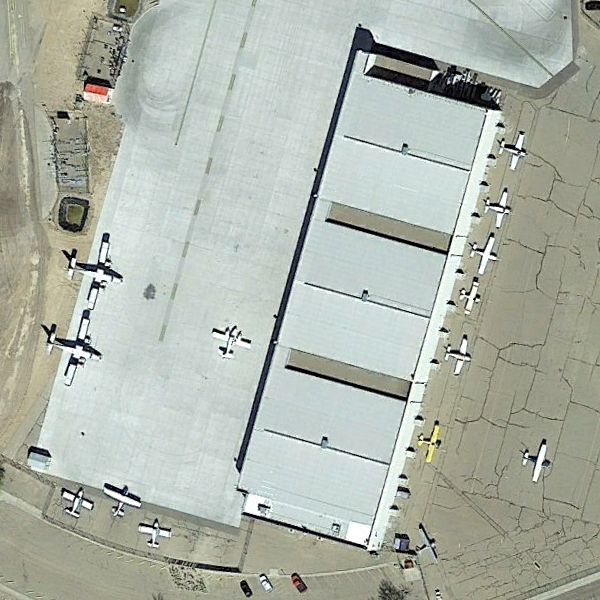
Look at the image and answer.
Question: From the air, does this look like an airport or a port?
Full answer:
This image shows an airport.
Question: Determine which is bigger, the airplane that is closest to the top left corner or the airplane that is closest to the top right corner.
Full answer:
The airplane that is closest to the top left corner takes up more space than the airplane that is closest to the top right corner does.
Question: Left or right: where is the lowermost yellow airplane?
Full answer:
You can find the lowermost yellow airplane on the right side of the picture.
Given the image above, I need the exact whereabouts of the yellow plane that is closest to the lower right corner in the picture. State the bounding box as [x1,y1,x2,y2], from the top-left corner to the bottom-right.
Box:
[415,425,442,462]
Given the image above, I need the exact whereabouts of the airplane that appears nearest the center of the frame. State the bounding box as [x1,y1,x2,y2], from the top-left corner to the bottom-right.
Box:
[212,326,250,360]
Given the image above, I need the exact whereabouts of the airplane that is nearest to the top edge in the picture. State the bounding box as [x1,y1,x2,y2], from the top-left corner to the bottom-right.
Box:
[497,134,529,170]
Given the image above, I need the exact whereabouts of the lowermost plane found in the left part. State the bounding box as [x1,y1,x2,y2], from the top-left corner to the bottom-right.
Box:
[138,523,171,548]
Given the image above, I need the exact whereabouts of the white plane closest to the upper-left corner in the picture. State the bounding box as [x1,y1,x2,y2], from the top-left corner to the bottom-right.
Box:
[62,241,121,311]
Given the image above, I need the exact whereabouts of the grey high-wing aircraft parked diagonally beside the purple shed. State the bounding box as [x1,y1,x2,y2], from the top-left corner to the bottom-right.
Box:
[414,526,438,564]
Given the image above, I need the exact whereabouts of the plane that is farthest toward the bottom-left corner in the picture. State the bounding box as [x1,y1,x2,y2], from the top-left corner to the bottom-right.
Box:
[62,491,93,517]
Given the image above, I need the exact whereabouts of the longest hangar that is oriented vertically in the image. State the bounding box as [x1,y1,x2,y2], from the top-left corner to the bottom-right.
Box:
[234,49,501,550]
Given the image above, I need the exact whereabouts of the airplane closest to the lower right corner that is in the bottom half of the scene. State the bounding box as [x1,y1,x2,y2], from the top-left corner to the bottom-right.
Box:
[521,445,553,482]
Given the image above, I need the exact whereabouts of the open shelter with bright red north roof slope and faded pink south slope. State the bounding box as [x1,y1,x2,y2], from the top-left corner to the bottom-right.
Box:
[85,81,112,102]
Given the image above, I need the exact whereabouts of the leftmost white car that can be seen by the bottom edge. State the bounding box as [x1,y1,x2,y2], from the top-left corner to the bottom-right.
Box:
[260,574,273,593]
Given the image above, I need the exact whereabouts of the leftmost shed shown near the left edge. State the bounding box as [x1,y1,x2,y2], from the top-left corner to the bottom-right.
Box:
[29,451,52,472]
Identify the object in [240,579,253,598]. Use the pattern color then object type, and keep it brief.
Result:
black vehicle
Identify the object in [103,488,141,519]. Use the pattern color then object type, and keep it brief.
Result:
white airplane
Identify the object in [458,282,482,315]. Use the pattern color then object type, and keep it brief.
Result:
white airplane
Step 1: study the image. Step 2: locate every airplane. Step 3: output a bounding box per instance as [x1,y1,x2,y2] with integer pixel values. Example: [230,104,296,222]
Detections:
[103,488,141,519]
[458,282,482,315]
[62,241,121,311]
[212,326,250,360]
[468,237,499,274]
[415,425,442,462]
[521,445,553,482]
[62,491,93,517]
[497,134,529,170]
[39,319,101,386]
[138,523,171,548]
[483,192,513,227]
[442,339,473,375]
[414,526,438,564]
